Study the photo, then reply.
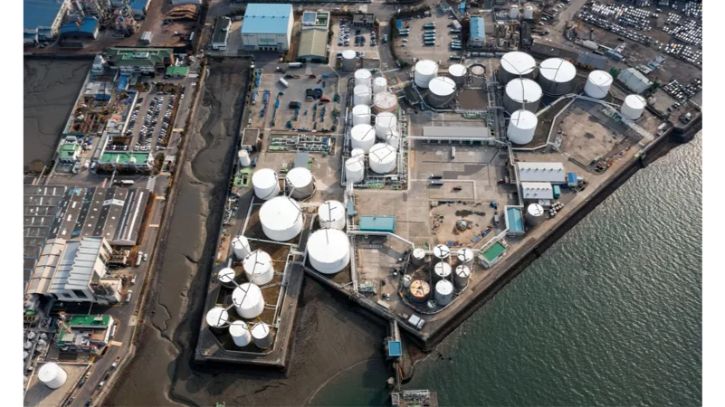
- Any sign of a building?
Yes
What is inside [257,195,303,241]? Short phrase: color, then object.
white storage tank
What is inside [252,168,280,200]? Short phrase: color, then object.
white storage tank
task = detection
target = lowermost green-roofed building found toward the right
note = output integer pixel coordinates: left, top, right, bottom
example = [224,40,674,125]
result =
[479,239,508,266]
